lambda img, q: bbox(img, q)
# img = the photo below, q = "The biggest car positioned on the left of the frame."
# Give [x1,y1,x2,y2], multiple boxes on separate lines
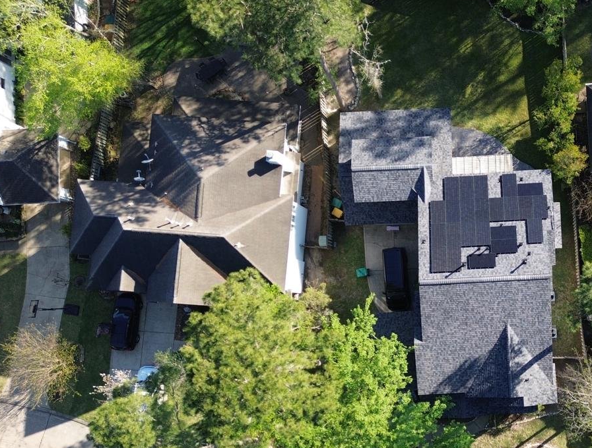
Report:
[108,291,144,353]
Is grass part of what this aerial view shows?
Yes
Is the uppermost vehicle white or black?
black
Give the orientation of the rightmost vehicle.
from top to bottom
